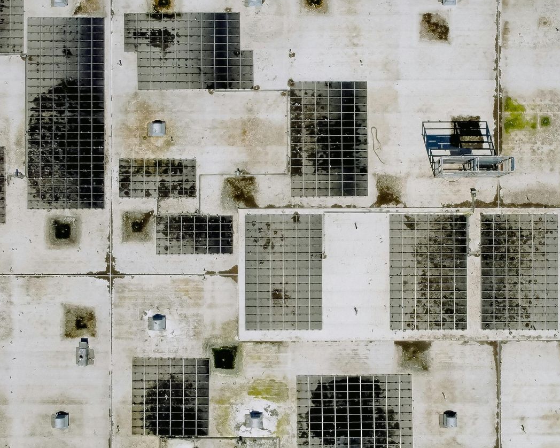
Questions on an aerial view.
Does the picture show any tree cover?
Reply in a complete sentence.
No, no tree cover is visible.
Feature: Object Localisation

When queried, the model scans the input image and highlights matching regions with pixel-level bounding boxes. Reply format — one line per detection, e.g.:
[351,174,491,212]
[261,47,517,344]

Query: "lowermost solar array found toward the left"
[131,357,210,435]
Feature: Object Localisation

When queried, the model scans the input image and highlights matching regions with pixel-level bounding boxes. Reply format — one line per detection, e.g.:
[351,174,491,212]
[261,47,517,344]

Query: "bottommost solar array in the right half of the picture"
[296,374,414,448]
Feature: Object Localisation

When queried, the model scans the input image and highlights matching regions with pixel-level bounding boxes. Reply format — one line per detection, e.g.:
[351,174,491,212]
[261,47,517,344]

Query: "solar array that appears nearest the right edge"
[481,212,560,330]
